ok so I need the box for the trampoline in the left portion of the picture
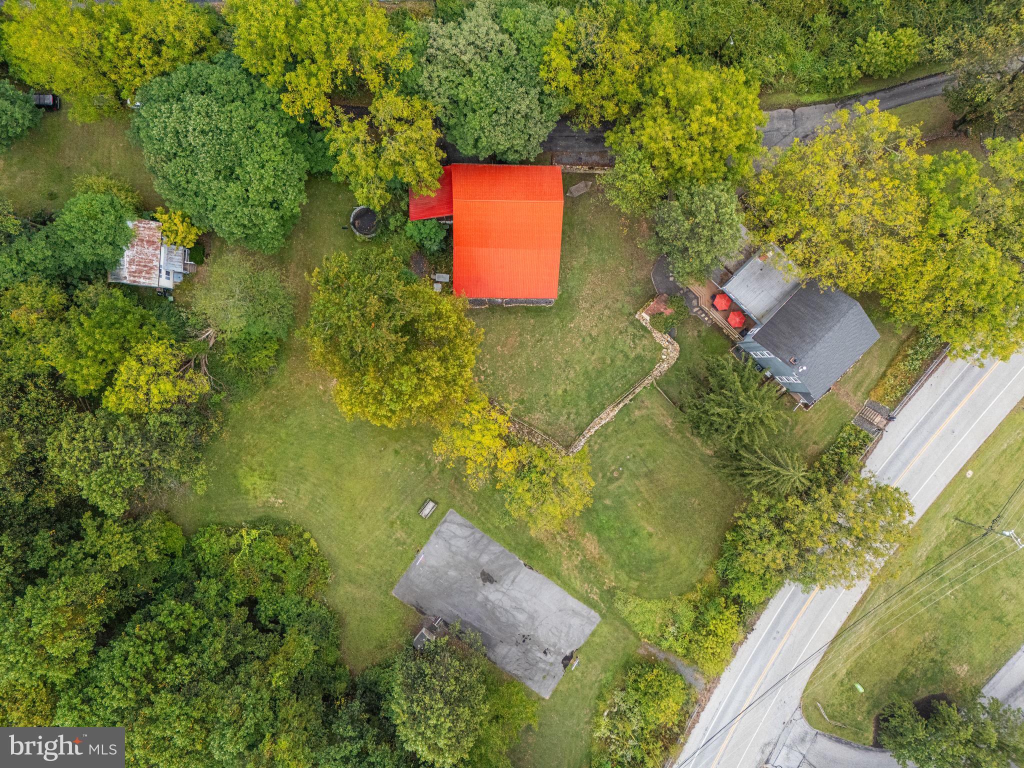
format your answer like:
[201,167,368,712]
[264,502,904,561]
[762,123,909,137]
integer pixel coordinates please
[347,207,379,235]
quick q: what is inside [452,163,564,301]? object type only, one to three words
barn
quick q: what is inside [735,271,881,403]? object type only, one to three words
house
